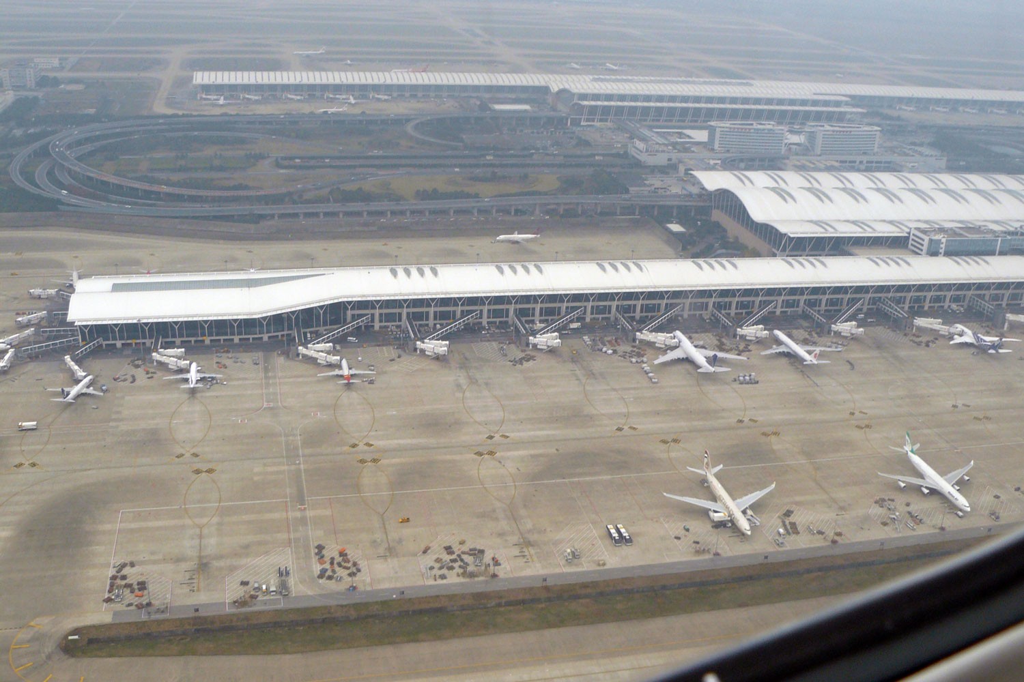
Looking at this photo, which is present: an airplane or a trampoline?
airplane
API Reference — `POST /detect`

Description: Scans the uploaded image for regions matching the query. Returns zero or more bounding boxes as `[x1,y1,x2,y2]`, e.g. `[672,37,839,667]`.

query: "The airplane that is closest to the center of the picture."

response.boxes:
[495,227,540,243]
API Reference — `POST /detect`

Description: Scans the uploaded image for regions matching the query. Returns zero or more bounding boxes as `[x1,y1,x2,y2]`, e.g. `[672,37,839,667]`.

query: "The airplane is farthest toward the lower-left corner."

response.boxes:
[39,376,106,405]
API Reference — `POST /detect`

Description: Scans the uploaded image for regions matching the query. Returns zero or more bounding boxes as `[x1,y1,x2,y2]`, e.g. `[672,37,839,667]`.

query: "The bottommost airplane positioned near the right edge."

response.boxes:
[868,427,976,510]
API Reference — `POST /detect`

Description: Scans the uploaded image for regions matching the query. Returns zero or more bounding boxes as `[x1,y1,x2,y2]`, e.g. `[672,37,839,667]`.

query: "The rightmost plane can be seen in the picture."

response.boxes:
[943,324,1024,354]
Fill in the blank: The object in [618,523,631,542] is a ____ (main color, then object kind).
white vehicle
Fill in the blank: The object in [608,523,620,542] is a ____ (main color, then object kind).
white vehicle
